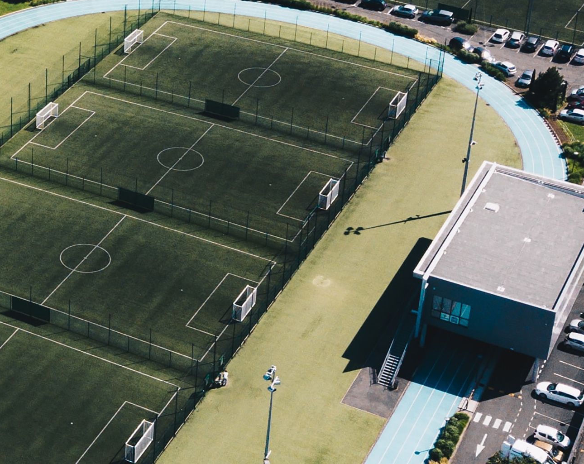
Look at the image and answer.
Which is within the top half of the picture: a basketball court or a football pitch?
football pitch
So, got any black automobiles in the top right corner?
Yes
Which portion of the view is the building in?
right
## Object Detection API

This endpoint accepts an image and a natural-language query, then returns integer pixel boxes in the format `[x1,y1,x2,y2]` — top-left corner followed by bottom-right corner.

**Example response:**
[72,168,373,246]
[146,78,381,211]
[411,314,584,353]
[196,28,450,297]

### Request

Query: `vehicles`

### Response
[216,372,229,388]
[491,29,509,44]
[540,42,558,57]
[526,418,575,452]
[535,432,567,463]
[570,88,584,100]
[573,51,584,66]
[534,384,584,411]
[555,45,575,62]
[506,32,526,49]
[562,332,584,350]
[495,428,559,464]
[568,100,584,111]
[392,5,420,19]
[516,68,538,87]
[360,0,388,12]
[447,37,476,53]
[523,37,542,53]
[558,109,584,126]
[422,10,454,26]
